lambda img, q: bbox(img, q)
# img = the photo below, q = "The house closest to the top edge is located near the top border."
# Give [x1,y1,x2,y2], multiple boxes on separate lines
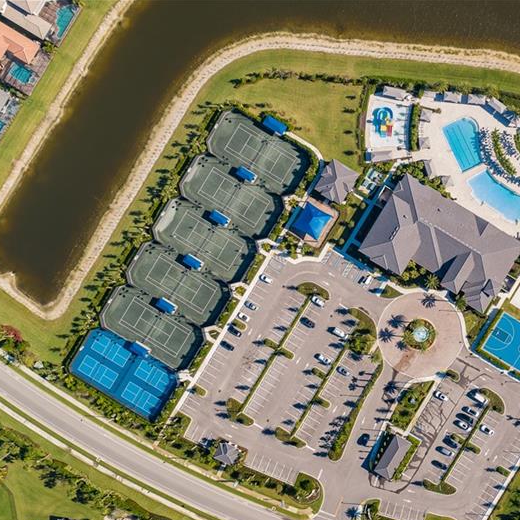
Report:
[0,0,53,40]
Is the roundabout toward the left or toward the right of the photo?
right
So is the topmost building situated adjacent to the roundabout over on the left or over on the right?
right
